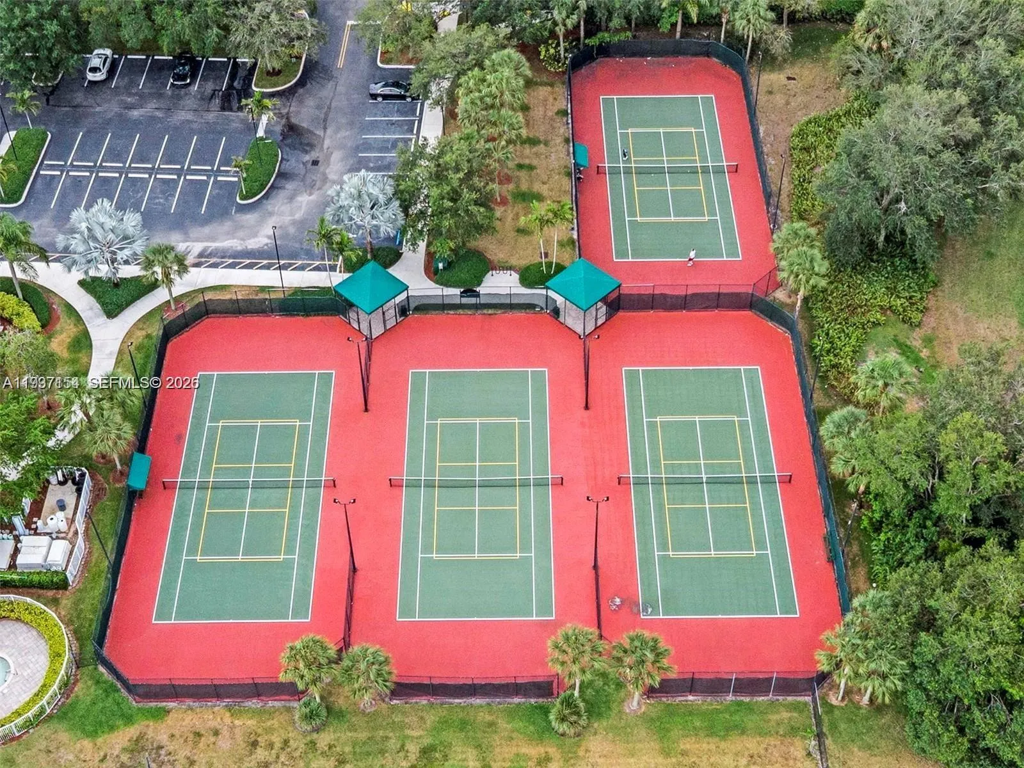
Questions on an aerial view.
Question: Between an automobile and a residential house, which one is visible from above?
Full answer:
Visible in the photo is an automobile.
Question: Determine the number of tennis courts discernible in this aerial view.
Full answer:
The count of tennis courts comes to 4.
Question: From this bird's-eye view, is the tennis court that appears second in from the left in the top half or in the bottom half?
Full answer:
The tennis court that appears second in from the left sits in the bottom half of the picture.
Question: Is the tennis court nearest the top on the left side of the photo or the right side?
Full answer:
The tennis court nearest the top appears in the right half of the scene.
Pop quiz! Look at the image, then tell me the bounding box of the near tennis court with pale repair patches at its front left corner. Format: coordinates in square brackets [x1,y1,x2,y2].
[584,312,844,696]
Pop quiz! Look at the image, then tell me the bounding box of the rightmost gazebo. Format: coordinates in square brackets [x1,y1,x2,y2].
[545,258,623,337]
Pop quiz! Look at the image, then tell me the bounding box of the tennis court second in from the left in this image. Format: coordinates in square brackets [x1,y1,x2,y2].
[351,314,599,699]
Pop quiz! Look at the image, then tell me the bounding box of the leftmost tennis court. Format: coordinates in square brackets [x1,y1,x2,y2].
[102,316,370,701]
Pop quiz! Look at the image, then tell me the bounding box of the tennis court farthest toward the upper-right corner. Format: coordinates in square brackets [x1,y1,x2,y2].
[569,57,780,313]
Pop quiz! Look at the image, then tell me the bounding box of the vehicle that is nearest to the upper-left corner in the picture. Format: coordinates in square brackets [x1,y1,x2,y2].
[87,48,115,78]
